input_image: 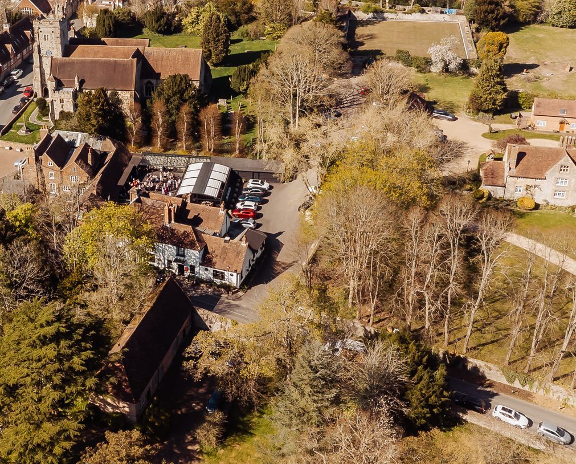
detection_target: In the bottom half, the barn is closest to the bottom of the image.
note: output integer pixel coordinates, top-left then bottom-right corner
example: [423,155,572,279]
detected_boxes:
[92,274,198,428]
